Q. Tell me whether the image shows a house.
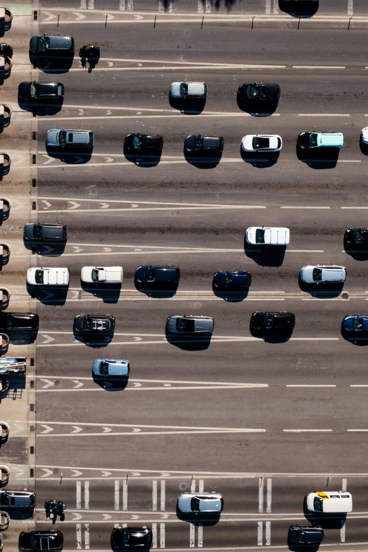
No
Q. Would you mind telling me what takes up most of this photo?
paved ground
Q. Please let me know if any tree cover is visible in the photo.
No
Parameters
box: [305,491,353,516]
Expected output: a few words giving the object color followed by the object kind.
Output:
white vehicle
